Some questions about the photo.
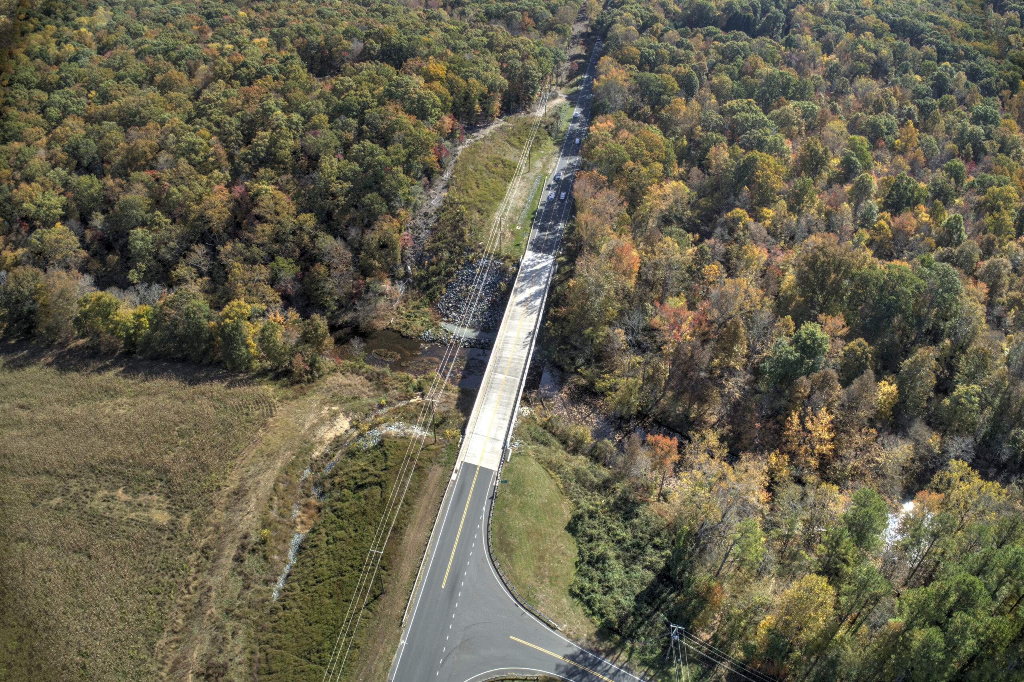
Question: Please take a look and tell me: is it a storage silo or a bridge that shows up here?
bridge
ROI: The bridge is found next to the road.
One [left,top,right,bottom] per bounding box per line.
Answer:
[449,246,560,487]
